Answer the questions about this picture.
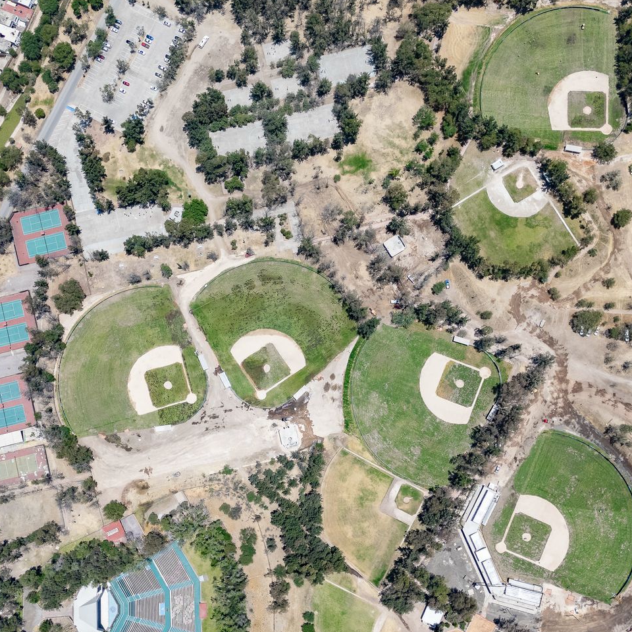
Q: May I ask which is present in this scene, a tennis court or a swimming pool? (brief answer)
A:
tennis court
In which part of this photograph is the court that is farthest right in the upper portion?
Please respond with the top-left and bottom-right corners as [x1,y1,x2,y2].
[319,43,375,84]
